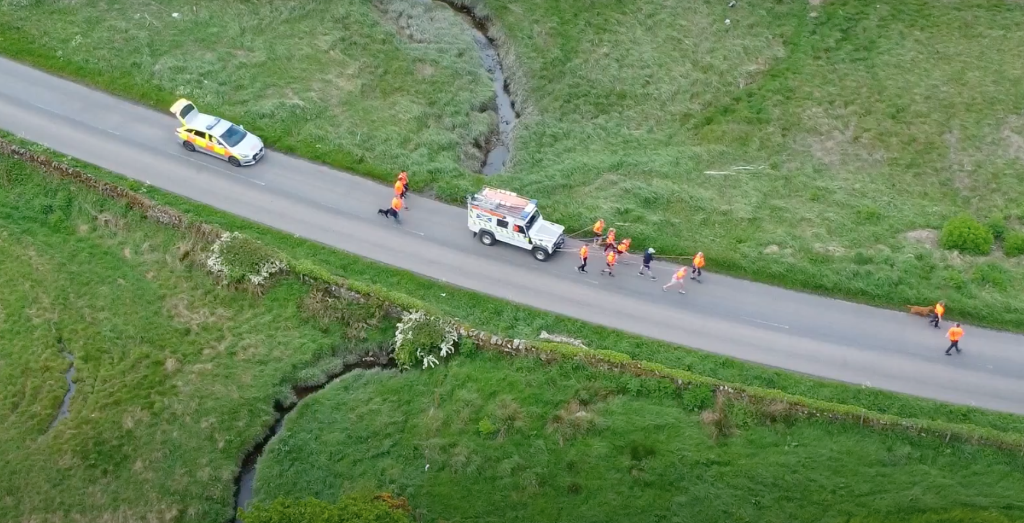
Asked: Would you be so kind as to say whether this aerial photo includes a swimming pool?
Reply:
No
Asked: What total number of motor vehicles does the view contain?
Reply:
2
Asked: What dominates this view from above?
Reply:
grass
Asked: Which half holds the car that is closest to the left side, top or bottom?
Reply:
top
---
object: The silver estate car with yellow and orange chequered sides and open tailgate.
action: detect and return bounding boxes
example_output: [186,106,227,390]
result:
[167,96,268,168]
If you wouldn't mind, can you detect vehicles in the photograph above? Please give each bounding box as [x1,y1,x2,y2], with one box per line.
[167,96,268,168]
[469,183,569,262]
